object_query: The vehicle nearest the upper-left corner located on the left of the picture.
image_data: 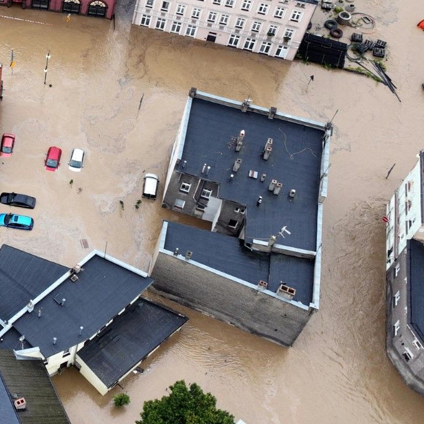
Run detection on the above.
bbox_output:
[0,132,15,157]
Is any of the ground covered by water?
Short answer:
Yes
